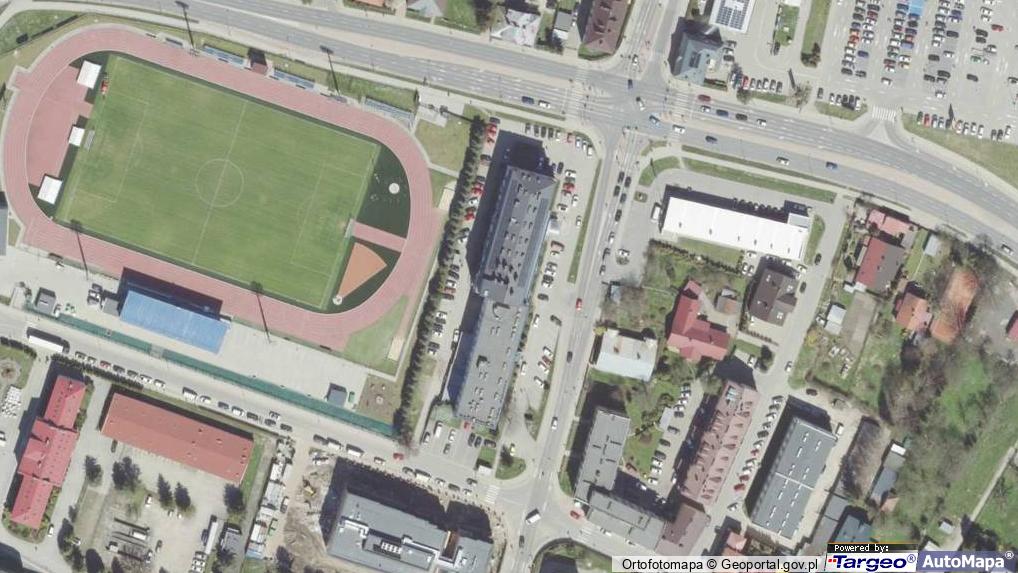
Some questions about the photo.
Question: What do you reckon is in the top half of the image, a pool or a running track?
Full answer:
The feature located in the top half of the image is a running track.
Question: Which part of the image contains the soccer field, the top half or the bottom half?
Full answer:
The soccer field is in the top half of the image.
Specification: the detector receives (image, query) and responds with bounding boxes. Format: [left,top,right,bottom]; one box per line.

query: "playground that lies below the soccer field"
[358,375,401,424]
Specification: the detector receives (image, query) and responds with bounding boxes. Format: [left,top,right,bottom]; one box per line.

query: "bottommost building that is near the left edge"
[10,475,53,528]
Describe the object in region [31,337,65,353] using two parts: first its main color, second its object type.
white vehicle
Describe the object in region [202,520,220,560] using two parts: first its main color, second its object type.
white vehicle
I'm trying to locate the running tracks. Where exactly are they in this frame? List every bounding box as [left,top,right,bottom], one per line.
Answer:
[2,30,455,357]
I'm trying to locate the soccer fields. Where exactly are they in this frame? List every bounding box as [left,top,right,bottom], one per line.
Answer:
[54,54,381,310]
